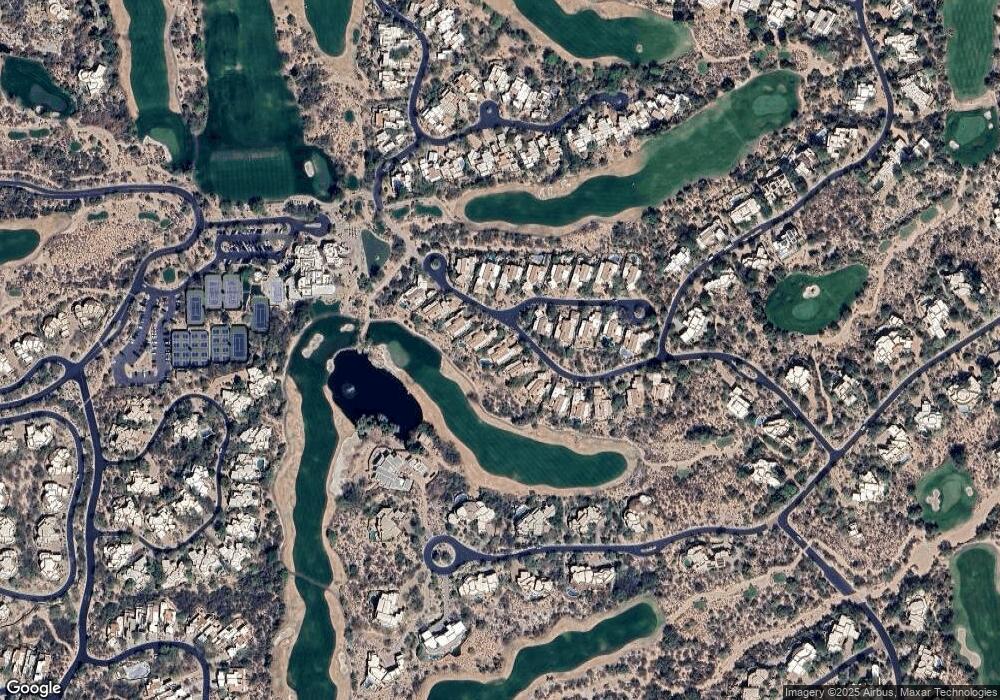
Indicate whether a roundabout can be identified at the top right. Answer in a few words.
No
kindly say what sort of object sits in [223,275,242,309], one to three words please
tennis court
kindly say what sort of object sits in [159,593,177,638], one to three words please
house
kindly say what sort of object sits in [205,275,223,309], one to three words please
tennis court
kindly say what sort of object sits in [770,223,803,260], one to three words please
house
